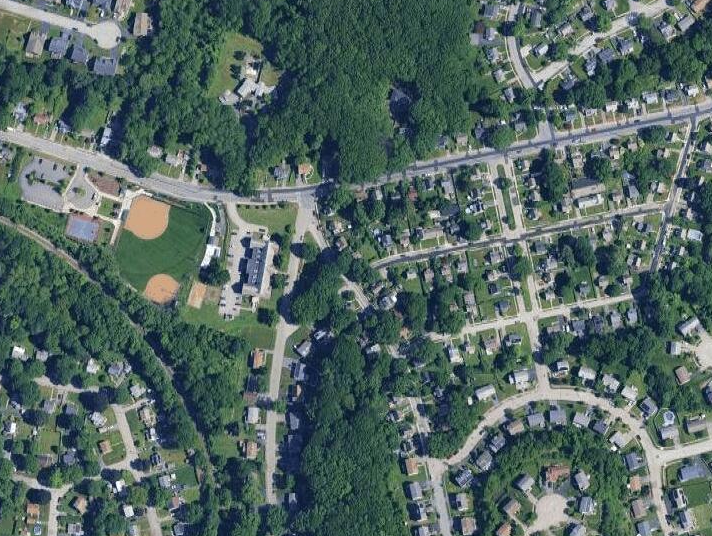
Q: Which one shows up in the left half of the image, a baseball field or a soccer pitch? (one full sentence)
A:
What appears in the left half of the image is a baseball field.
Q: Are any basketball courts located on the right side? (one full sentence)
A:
No, no basketball court can be made out on the right side.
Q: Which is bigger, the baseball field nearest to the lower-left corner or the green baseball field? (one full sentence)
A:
Of the two, the green baseball field is bigger, while the baseball field nearest to the lower-left corner is smaller.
